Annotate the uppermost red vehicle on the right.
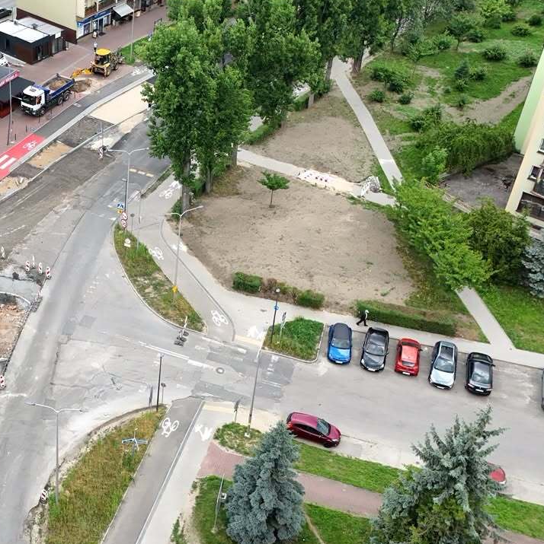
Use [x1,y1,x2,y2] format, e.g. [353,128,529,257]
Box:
[395,336,426,376]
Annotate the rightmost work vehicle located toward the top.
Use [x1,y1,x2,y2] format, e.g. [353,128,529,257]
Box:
[70,45,130,80]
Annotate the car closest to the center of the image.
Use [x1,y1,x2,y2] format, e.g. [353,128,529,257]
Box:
[327,320,355,363]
